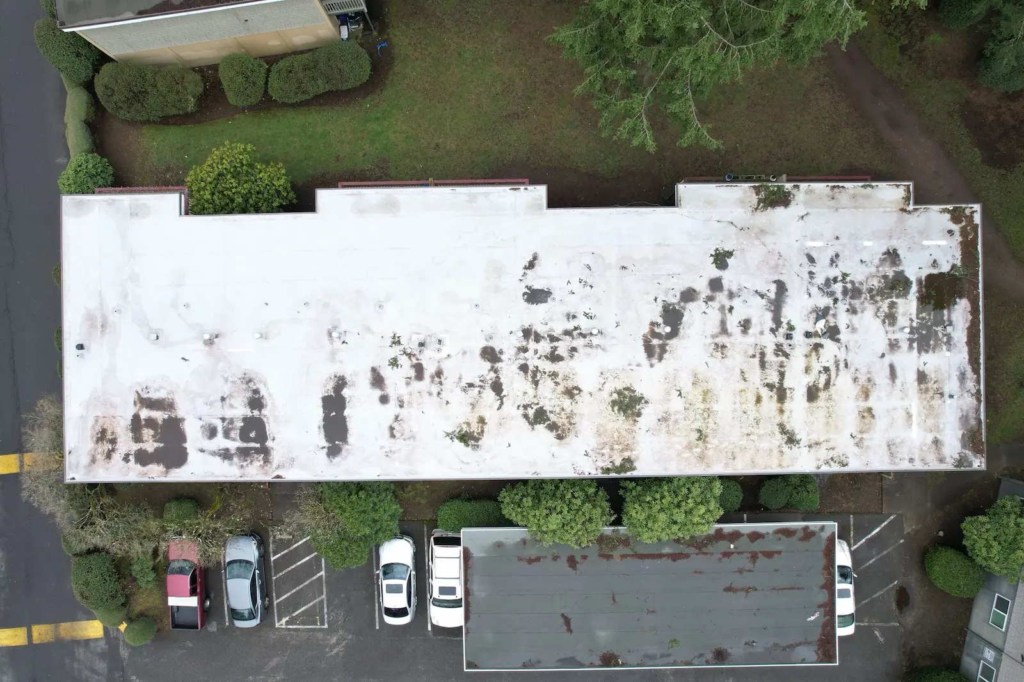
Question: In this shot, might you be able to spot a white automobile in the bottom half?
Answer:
Yes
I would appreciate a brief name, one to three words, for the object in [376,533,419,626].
car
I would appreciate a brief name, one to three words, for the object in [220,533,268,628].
car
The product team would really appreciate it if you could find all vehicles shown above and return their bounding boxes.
[837,537,861,633]
[376,533,419,626]
[425,528,464,625]
[220,533,268,628]
[163,533,213,632]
